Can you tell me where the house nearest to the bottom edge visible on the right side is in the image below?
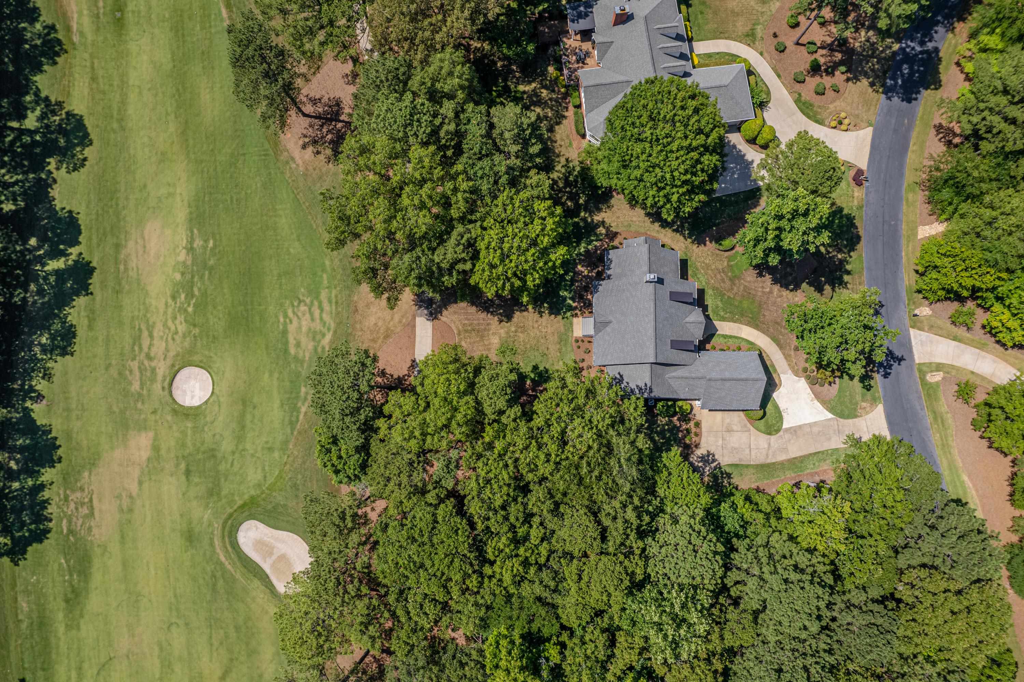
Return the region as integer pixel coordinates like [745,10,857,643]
[593,237,767,410]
